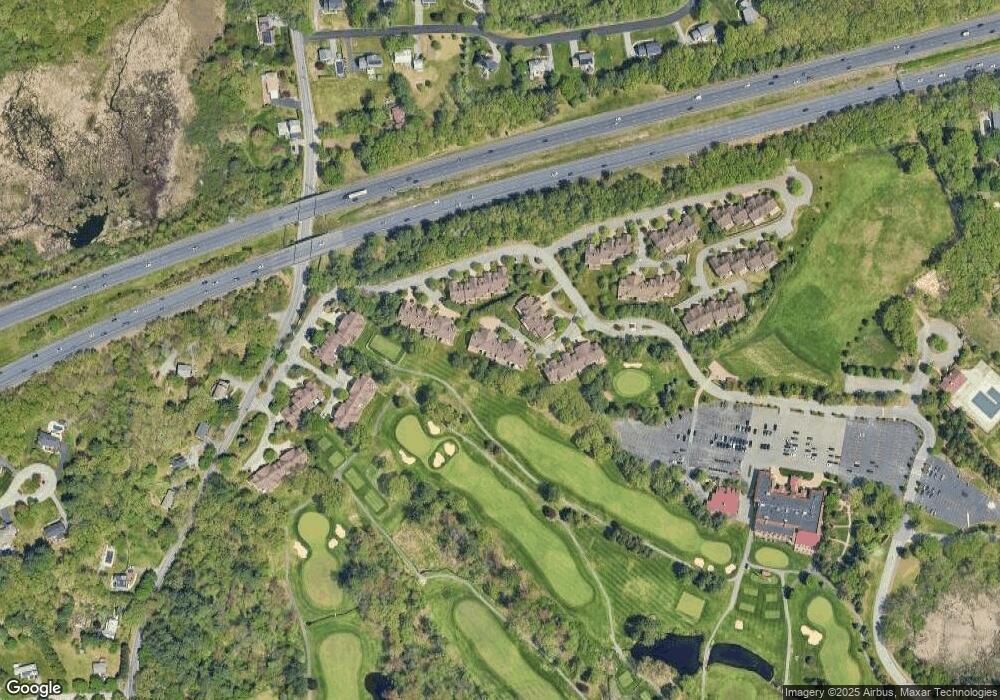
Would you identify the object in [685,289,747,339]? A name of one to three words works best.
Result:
house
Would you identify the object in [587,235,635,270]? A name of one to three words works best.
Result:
house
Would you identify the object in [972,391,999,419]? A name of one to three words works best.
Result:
swimming pool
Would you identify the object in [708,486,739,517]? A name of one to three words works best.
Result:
building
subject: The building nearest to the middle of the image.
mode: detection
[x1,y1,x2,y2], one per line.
[471,331,527,367]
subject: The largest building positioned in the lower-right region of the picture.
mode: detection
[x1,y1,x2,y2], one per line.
[750,465,826,556]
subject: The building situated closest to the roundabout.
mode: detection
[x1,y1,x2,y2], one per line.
[938,367,970,397]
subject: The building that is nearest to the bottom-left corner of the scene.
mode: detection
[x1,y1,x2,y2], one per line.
[15,666,38,682]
